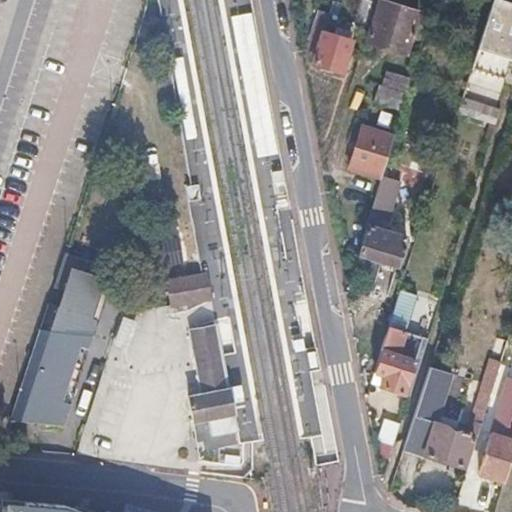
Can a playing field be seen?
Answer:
No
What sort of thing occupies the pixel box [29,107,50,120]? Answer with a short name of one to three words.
vehicle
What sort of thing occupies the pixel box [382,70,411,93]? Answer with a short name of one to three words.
shed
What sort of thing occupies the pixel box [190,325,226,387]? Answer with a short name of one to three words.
building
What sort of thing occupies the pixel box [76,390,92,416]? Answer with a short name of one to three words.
vehicle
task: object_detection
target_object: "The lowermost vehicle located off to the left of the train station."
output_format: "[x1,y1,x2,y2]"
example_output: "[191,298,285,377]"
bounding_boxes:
[93,436,114,450]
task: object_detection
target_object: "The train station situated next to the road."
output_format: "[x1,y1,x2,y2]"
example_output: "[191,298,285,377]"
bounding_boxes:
[161,0,321,443]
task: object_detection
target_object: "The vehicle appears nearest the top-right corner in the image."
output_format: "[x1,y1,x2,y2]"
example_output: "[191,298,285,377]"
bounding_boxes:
[350,88,364,111]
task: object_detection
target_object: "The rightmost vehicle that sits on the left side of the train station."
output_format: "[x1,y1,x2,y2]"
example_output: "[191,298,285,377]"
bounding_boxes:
[147,148,160,176]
